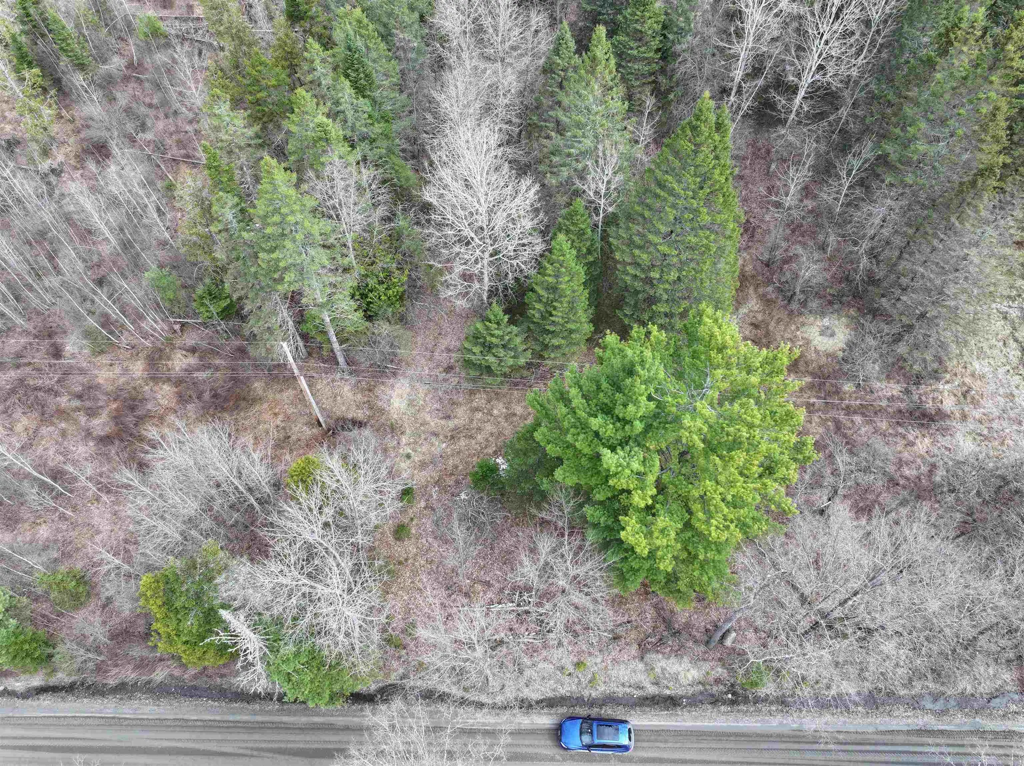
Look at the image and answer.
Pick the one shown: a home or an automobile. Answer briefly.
automobile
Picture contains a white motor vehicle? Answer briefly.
No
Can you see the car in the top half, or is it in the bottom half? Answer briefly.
bottom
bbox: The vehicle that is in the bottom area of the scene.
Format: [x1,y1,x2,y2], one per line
[558,718,634,759]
